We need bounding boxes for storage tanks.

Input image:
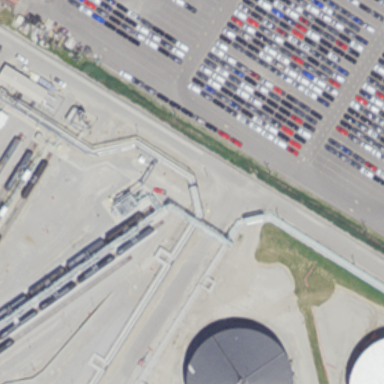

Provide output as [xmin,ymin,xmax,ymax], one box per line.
[184,326,296,384]
[346,336,384,384]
